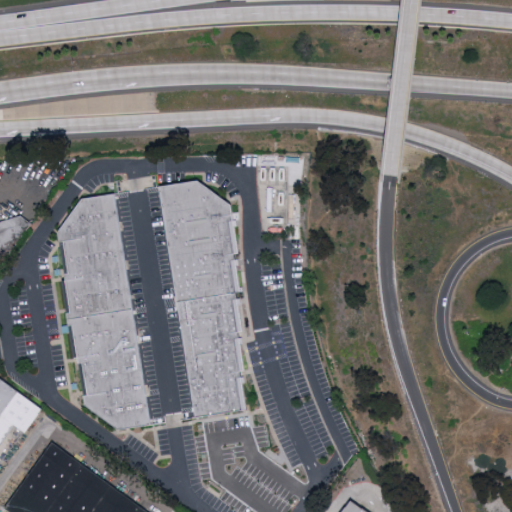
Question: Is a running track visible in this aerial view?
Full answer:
No, there is no running track in the image.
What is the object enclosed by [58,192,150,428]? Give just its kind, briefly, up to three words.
building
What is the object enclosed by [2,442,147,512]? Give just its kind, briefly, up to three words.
building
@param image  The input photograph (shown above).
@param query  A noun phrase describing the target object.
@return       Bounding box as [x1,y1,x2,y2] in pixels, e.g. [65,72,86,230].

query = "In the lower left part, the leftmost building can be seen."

[0,378,40,443]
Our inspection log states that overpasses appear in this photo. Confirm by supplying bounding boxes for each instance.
[384,0,420,176]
